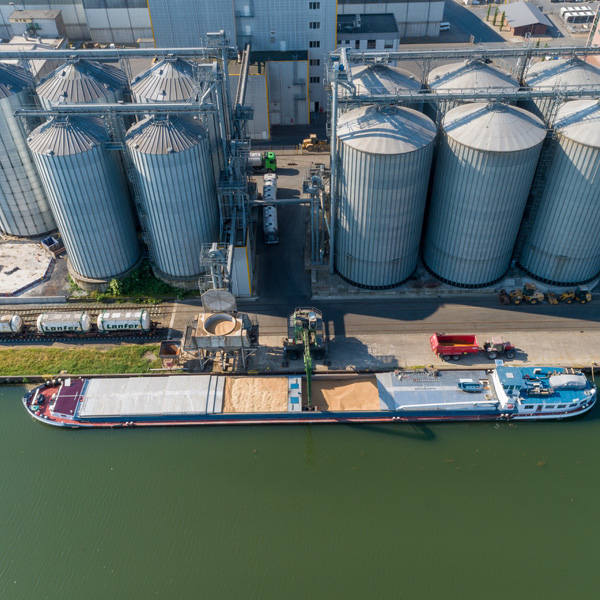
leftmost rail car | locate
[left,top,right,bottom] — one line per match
[0,312,39,338]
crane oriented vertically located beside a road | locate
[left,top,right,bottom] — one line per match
[281,307,331,410]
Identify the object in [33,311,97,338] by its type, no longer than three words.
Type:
rail car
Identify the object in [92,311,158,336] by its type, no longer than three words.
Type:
rail car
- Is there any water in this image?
Yes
